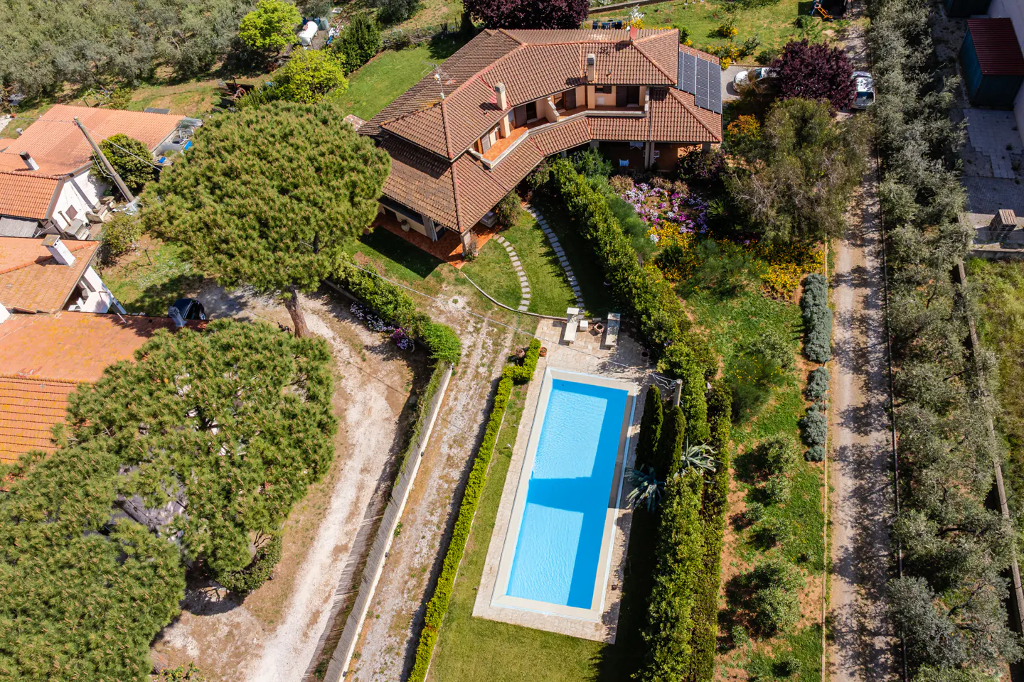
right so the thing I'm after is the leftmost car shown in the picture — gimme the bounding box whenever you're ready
[165,288,215,324]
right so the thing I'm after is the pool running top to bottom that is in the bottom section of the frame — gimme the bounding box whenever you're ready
[488,366,643,624]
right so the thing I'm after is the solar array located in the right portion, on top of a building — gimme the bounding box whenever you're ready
[681,49,722,111]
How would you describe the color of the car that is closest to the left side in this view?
black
